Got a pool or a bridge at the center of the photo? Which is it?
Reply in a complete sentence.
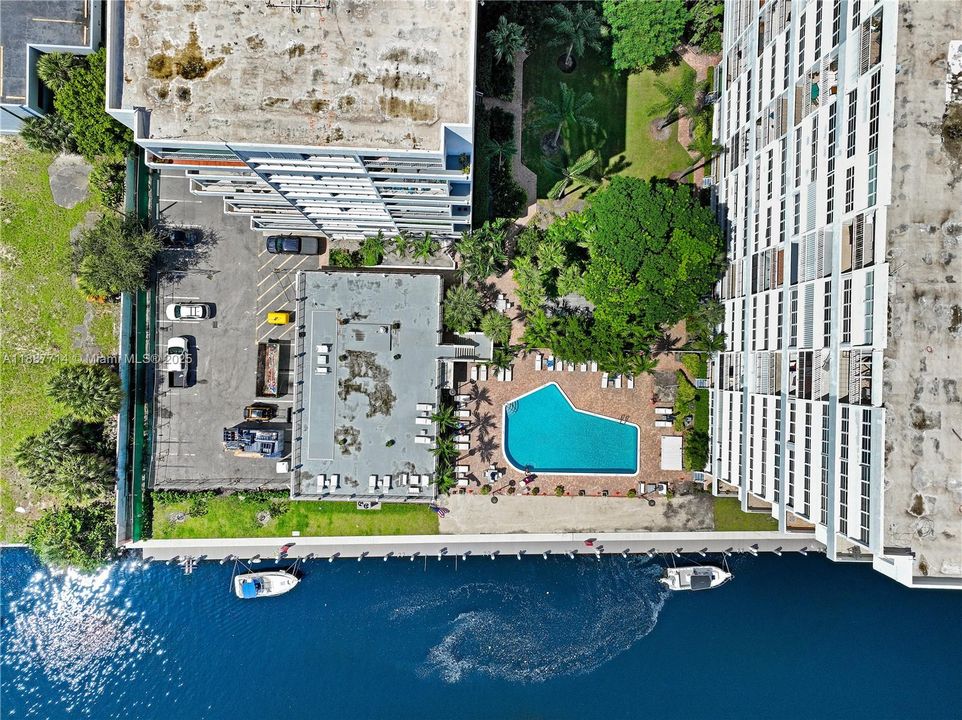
You can see a pool at the center of the photo.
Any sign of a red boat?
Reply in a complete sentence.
No, no red boat can be seen from above.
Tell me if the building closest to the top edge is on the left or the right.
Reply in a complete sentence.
It is on the left.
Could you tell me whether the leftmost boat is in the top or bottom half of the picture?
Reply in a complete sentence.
It is in the bottom half that the leftmost boat appears.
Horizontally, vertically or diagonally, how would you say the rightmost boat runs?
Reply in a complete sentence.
Seen from above, the rightmost boat lies horizontally.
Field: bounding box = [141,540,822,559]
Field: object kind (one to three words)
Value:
pier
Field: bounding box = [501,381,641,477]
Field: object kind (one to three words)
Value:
swimming pool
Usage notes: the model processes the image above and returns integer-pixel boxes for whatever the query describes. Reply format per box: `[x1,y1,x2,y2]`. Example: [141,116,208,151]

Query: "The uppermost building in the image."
[104,0,487,248]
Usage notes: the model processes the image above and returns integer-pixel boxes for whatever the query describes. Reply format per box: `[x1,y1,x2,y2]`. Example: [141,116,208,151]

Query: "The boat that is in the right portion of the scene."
[664,568,732,589]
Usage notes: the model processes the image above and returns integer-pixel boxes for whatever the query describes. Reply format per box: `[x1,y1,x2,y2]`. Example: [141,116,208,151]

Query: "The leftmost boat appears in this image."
[231,572,299,598]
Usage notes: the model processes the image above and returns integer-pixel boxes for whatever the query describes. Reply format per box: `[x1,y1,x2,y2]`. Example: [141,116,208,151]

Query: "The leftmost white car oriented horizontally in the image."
[164,301,206,321]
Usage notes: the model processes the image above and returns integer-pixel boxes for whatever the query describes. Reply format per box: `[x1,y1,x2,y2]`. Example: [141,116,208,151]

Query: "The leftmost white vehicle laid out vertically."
[162,337,186,388]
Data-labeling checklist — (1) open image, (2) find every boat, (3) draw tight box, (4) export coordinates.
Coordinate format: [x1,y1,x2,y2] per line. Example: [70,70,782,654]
[231,572,299,598]
[664,568,732,589]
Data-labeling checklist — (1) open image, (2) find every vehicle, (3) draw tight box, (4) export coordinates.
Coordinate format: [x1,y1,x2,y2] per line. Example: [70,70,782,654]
[241,403,270,420]
[163,227,205,246]
[265,235,317,255]
[162,337,186,388]
[164,301,206,321]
